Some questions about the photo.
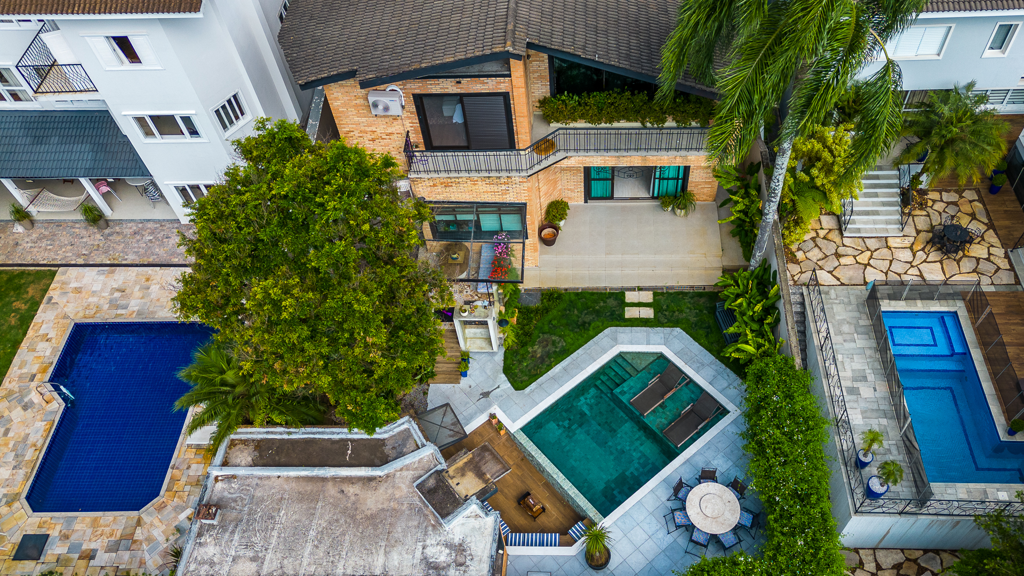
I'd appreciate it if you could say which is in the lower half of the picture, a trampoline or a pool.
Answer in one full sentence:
What appears in the lower half of the picture is a pool.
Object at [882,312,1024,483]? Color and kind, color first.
blue swimming pool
